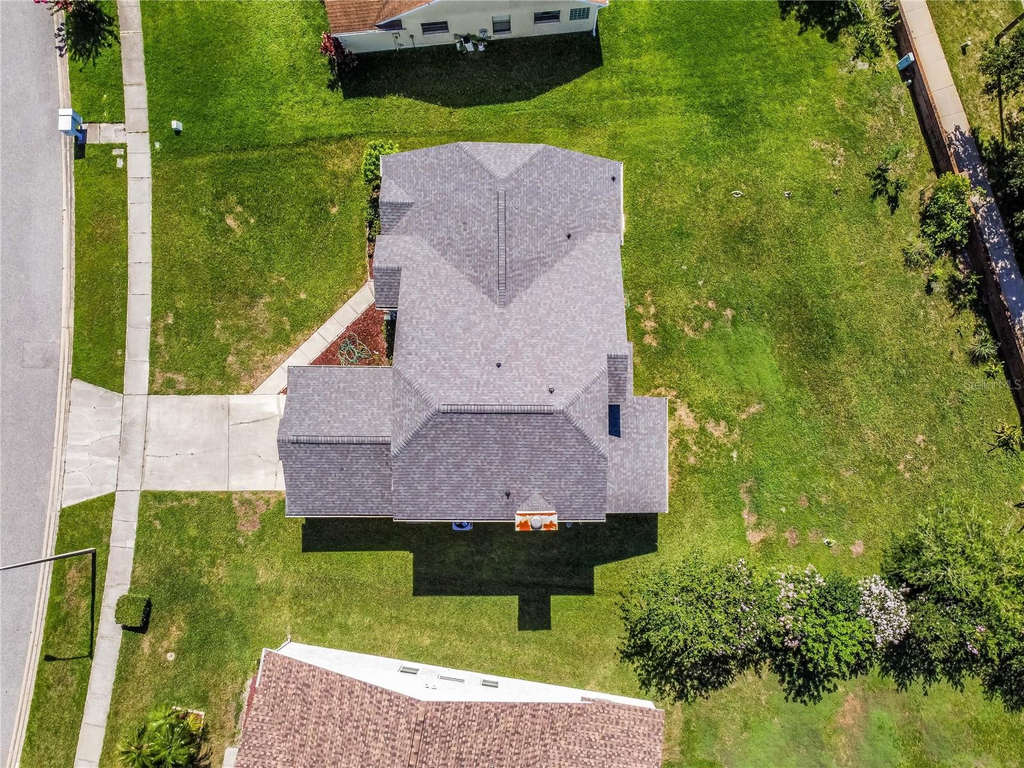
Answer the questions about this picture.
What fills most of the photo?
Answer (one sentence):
Most of the picture is covered by grass.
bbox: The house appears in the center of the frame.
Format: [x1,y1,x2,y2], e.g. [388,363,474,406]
[271,141,671,530]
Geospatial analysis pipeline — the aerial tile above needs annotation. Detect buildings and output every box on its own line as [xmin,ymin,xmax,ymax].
[237,631,664,768]
[271,141,671,530]
[326,0,612,54]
